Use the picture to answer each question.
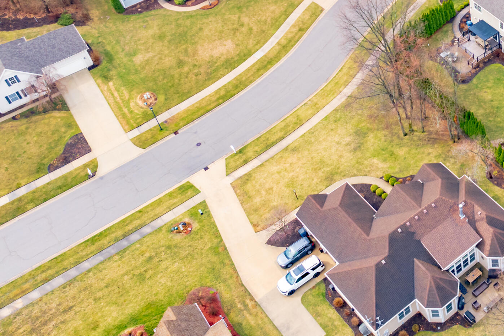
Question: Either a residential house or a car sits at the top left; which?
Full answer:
The one visible at the top left is a residential house.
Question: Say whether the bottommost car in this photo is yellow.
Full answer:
No, the bottommost car is actually white.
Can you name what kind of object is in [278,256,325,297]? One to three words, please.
car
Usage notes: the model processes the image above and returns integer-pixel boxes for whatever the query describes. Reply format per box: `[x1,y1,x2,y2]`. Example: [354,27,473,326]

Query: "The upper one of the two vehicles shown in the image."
[275,235,318,273]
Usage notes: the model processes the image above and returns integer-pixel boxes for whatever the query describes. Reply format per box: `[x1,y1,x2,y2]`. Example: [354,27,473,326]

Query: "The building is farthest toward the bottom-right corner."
[291,156,504,336]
